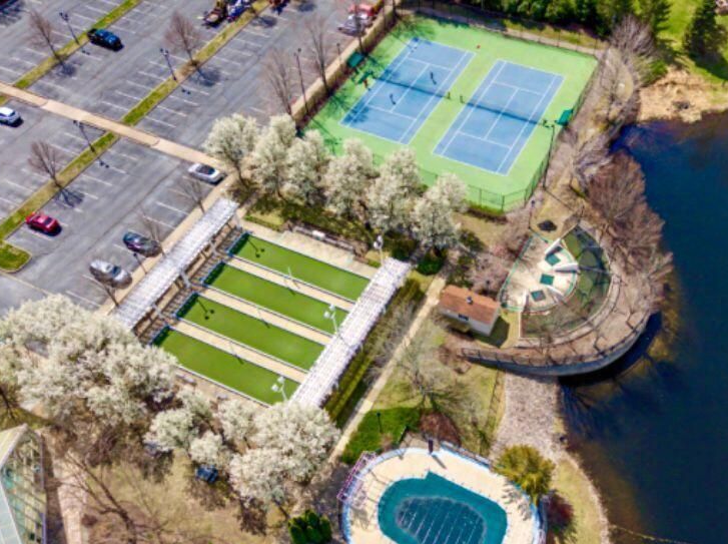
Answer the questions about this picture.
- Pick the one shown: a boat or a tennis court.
tennis court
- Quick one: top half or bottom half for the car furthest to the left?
top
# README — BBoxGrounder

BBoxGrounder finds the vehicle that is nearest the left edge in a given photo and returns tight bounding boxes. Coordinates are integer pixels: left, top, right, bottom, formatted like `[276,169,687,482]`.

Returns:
[0,106,23,128]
